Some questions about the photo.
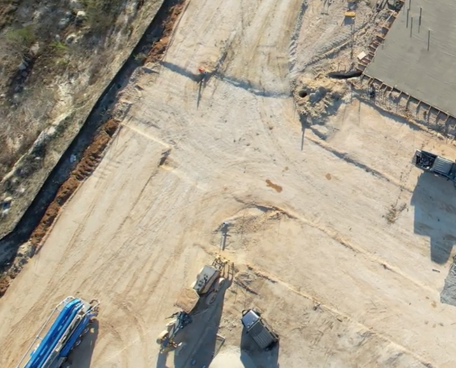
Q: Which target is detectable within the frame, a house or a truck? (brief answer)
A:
truck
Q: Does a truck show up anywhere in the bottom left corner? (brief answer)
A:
Yes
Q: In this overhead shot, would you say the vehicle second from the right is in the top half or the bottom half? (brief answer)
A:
bottom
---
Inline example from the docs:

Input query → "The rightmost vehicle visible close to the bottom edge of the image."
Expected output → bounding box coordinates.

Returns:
[240,308,279,357]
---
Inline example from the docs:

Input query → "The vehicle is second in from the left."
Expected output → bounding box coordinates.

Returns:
[171,251,236,345]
